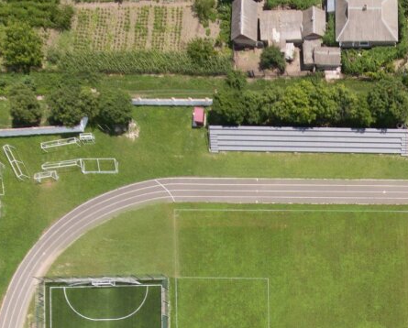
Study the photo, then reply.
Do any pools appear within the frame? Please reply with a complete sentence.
No, the photo shows no pool.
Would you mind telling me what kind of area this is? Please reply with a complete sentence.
This image shows a sports ground.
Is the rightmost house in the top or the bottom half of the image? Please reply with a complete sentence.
Seen from above, the rightmost house lies in the top half of the view.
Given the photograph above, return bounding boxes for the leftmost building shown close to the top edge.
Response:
[232,0,260,48]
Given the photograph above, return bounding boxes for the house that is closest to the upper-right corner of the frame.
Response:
[336,0,398,48]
